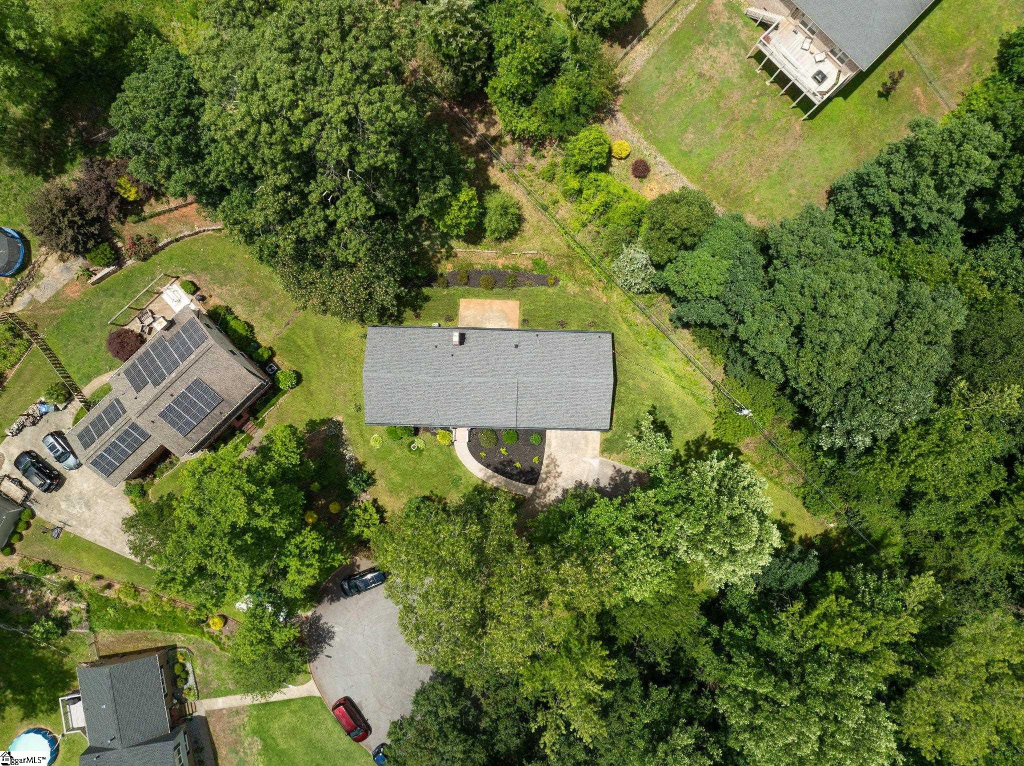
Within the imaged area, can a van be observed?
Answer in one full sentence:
Yes, a van can be made out from above.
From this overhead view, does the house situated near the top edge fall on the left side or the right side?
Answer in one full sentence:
The house situated near the top edge appears in the right half of the scene.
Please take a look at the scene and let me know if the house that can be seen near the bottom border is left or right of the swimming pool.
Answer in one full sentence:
In the image, the house that can be seen near the bottom border sits on the right side of the swimming pool.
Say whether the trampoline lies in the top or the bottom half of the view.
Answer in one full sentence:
Seen from above, the trampoline lies in the top half of the view.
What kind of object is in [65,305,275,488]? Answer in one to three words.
house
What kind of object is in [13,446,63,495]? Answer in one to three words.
car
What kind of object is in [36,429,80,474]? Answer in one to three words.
car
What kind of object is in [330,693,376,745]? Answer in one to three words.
van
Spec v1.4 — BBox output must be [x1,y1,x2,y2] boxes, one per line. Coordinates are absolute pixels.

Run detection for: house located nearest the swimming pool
[76,646,201,766]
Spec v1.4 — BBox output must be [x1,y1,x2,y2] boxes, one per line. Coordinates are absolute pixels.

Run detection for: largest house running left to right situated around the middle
[363,325,614,432]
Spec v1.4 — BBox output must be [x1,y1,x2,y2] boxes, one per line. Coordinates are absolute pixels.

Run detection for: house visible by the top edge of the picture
[742,0,936,93]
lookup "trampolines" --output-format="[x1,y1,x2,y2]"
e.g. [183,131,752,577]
[0,227,27,276]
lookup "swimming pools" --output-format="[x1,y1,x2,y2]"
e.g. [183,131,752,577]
[6,722,65,766]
